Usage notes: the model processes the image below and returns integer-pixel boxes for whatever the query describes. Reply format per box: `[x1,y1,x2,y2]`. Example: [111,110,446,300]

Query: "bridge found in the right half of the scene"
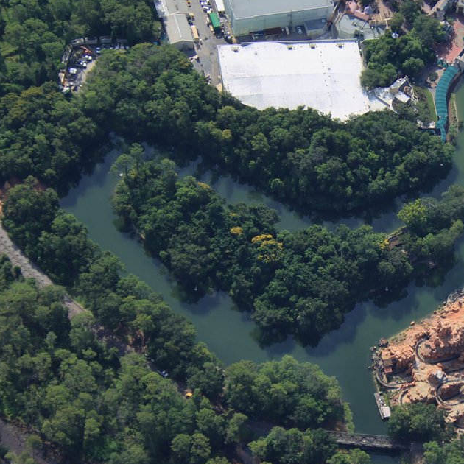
[355,431,412,455]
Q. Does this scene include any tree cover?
Yes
